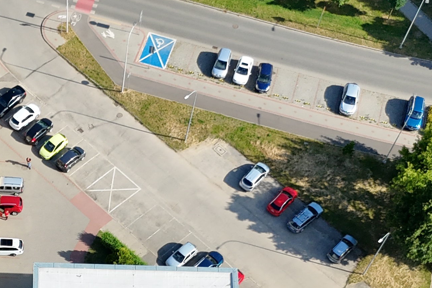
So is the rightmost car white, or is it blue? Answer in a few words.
blue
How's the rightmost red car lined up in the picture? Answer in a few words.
diagonally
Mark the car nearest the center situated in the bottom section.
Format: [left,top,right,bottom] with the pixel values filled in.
[238,163,271,195]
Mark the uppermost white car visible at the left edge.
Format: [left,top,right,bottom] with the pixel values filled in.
[6,104,40,134]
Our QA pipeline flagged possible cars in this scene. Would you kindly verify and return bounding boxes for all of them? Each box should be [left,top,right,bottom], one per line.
[197,252,227,268]
[285,202,324,236]
[6,104,40,134]
[402,94,427,131]
[52,144,88,177]
[0,237,24,258]
[0,85,28,120]
[238,163,271,195]
[21,118,55,148]
[253,61,274,95]
[211,47,233,79]
[0,195,23,216]
[163,236,200,267]
[232,53,256,89]
[339,80,363,118]
[263,185,301,219]
[37,130,71,163]
[0,174,23,195]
